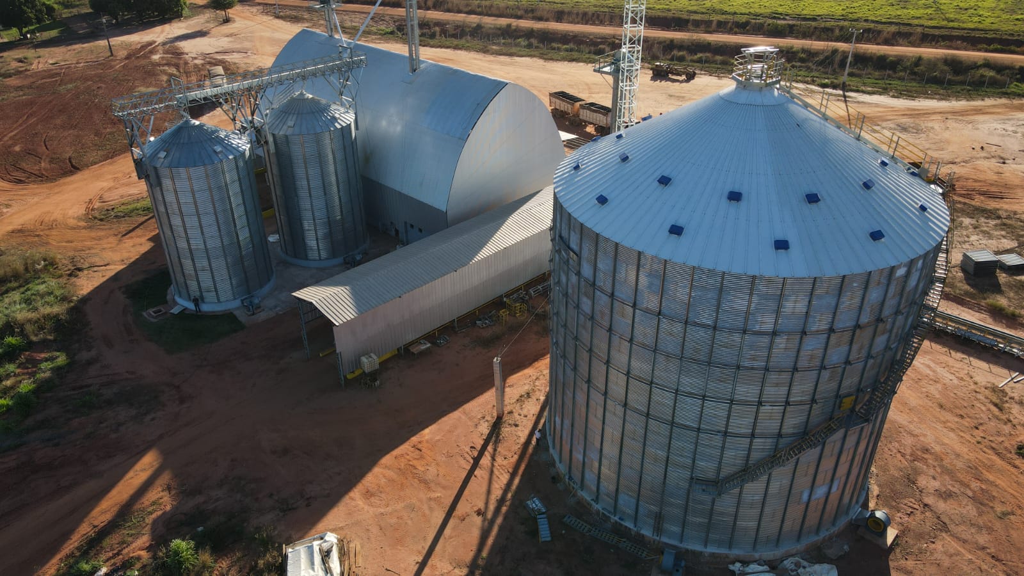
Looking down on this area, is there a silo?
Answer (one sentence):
Yes, looking at the shot, I can spot a silo.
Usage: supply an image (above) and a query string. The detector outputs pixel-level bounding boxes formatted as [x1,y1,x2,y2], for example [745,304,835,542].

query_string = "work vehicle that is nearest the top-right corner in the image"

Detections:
[653,60,701,80]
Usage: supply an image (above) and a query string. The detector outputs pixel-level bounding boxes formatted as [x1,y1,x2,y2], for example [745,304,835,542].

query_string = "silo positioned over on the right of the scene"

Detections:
[541,49,962,566]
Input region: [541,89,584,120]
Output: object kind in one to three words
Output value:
trailer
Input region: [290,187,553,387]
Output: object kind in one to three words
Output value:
shed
